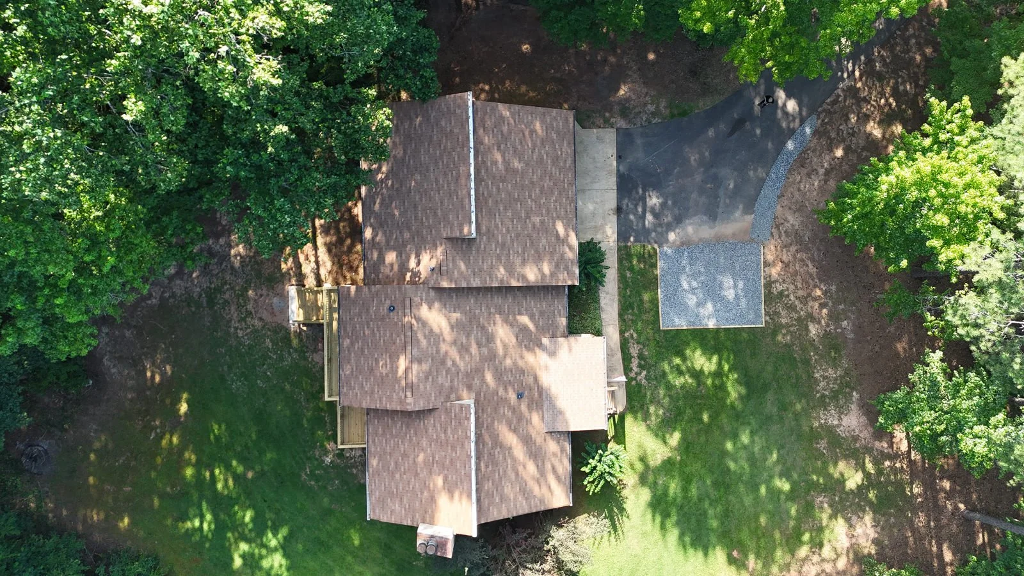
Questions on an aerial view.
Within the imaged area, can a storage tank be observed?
No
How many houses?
1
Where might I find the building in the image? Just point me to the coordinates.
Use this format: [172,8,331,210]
[335,91,609,558]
